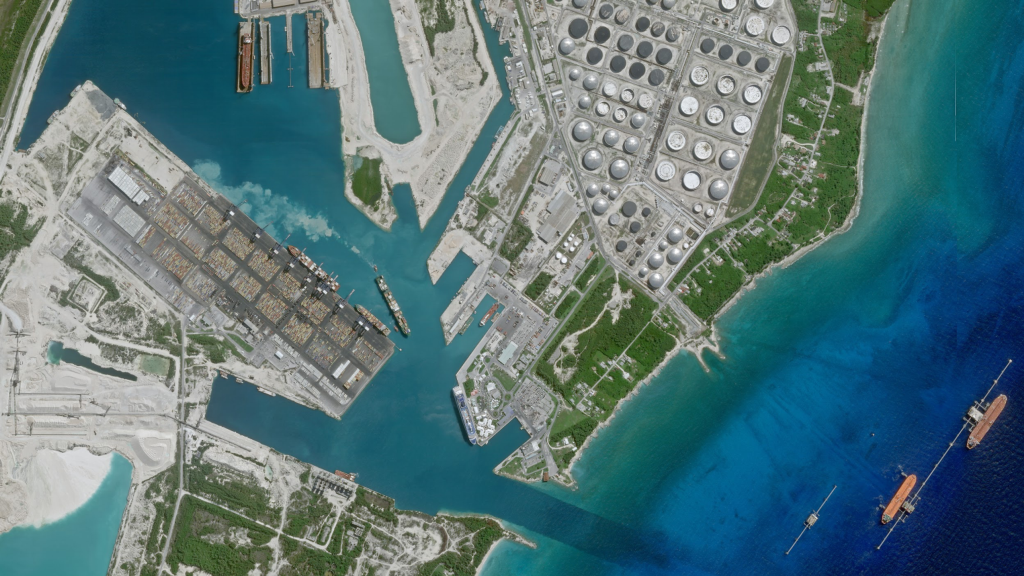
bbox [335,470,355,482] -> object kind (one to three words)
ship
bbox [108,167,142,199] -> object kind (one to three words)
building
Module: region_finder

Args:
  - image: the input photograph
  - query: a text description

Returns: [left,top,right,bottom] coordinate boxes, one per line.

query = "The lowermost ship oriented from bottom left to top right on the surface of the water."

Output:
[882,474,916,525]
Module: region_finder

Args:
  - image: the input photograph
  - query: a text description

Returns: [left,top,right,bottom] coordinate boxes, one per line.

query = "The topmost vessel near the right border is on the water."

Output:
[968,395,1007,450]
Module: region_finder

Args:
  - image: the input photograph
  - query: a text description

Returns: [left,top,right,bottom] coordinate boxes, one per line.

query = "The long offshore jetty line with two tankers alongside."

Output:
[877,359,1012,550]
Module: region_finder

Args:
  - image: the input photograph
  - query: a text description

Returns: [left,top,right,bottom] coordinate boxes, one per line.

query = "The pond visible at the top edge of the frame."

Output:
[349,0,421,145]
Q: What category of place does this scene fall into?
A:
port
